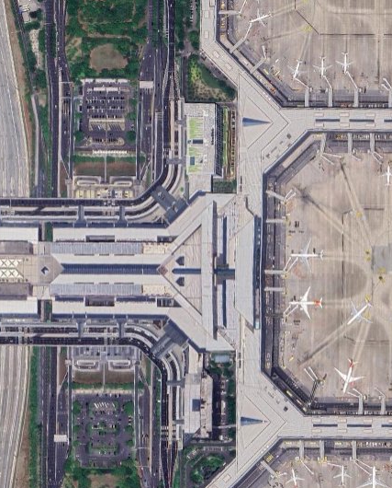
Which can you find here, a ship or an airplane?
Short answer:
airplane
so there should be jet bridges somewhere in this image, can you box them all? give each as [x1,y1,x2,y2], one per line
[320,132,342,165]
[266,304,300,317]
[347,388,363,415]
[320,439,343,468]
[381,78,392,107]
[300,439,315,475]
[265,256,299,273]
[348,132,362,161]
[220,0,247,14]
[374,387,386,415]
[262,461,288,476]
[353,439,373,476]
[370,132,384,165]
[294,77,309,107]
[323,75,333,107]
[304,367,319,406]
[267,189,297,202]
[231,21,253,52]
[346,71,358,107]
[250,45,267,73]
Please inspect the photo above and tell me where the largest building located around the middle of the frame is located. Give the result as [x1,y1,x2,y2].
[51,87,265,459]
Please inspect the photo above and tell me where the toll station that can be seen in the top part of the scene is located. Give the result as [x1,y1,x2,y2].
[139,77,153,92]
